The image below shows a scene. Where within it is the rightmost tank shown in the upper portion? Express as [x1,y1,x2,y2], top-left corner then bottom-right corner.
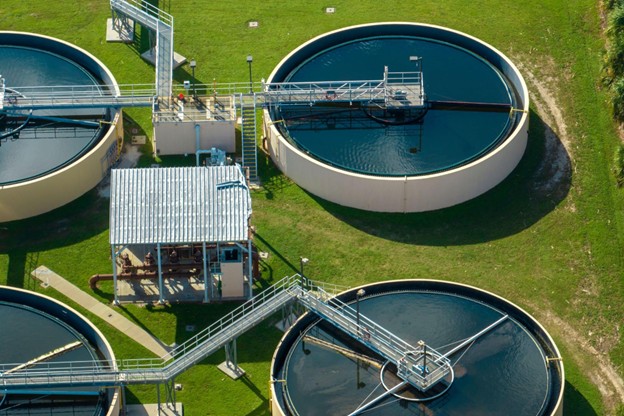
[264,22,528,214]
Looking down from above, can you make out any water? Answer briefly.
Yes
